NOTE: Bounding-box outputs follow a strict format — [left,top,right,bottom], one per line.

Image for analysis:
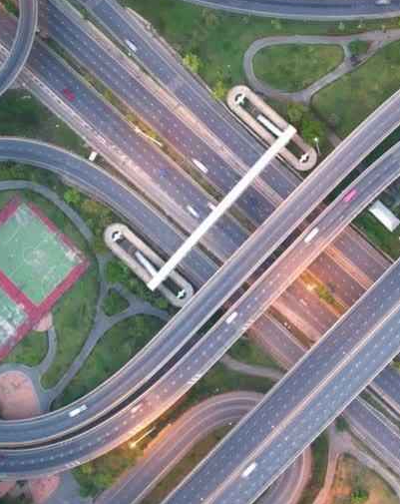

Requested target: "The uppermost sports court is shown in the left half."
[0,196,90,315]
